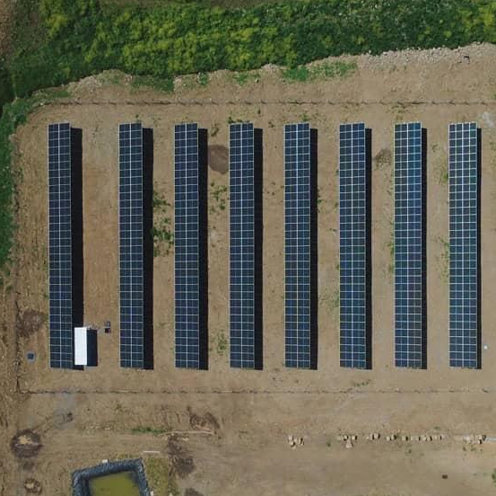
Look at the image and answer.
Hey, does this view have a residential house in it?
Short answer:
No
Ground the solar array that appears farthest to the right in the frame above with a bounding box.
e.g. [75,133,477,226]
[449,122,478,368]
